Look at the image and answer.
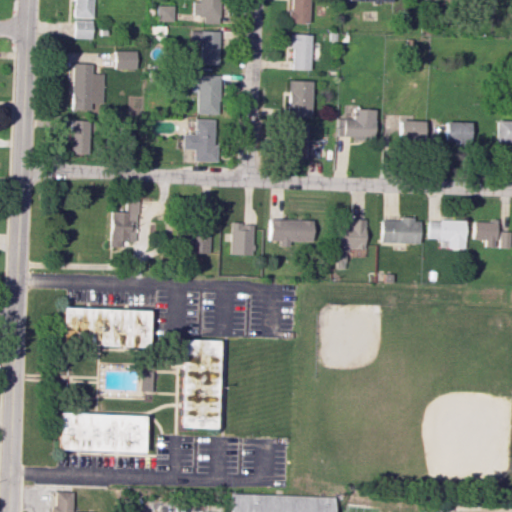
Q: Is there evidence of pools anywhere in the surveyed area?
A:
Yes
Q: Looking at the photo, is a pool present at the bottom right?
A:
No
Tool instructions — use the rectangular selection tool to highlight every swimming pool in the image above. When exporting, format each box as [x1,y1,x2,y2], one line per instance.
[150,120,184,137]
[100,362,146,400]
[150,46,162,60]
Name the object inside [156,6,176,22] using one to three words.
building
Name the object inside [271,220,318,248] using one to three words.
house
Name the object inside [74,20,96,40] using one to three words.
building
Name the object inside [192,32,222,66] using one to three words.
house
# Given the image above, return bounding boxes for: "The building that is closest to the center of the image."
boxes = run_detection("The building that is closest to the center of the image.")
[229,222,256,256]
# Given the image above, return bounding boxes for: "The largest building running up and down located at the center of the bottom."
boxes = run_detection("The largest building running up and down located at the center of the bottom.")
[180,340,224,430]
